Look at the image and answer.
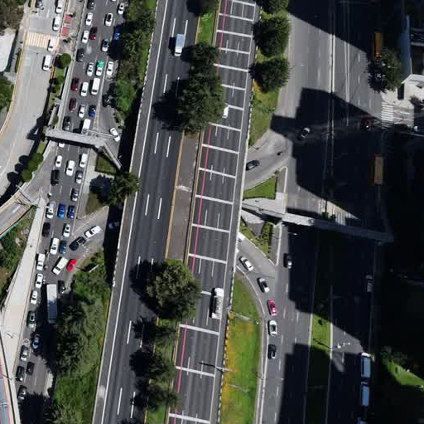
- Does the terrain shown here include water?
No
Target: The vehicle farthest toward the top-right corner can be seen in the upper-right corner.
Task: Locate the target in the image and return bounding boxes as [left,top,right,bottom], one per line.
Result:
[372,31,385,59]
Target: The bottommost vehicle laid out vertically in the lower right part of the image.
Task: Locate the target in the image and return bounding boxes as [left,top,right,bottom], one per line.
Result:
[359,379,372,407]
